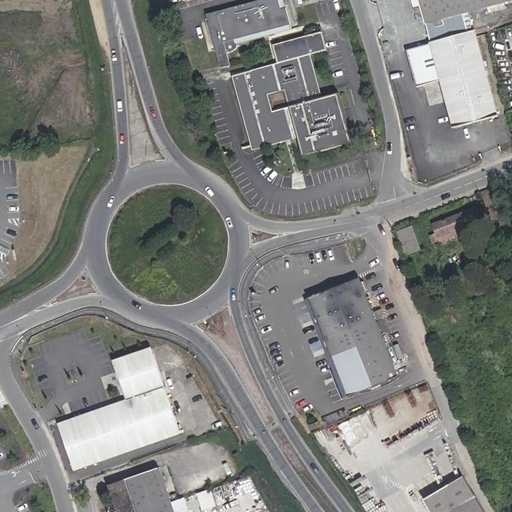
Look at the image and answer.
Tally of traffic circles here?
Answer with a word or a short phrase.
1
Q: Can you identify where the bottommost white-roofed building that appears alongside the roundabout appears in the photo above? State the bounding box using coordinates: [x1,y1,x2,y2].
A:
[56,386,182,472]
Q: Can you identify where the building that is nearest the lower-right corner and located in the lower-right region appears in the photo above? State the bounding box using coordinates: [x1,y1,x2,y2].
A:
[424,476,486,512]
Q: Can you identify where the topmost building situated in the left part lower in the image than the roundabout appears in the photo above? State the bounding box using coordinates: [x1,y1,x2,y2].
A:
[112,346,165,400]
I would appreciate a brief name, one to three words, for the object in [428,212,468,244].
house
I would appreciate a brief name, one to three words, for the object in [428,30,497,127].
building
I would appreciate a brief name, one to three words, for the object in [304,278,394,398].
building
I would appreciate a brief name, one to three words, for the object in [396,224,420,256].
shed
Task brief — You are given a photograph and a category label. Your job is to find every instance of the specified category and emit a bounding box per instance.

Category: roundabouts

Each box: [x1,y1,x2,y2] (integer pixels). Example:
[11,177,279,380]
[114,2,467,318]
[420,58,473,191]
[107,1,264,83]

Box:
[82,158,254,330]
